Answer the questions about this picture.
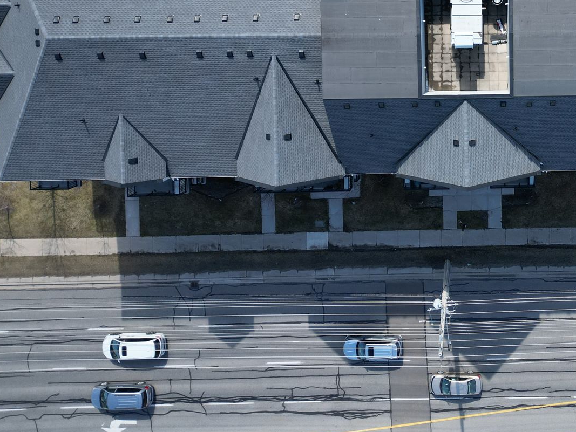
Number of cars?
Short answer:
four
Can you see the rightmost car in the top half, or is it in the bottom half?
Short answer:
bottom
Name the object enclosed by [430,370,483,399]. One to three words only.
car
